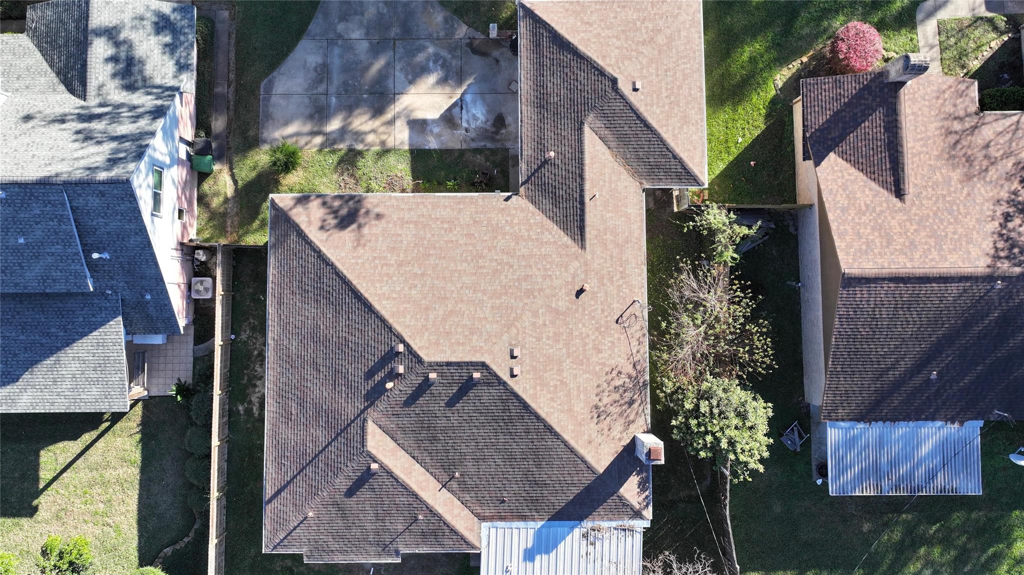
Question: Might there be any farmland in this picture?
No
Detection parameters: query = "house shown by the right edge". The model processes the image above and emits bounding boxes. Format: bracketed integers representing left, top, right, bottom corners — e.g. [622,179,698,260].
[794,58,1024,421]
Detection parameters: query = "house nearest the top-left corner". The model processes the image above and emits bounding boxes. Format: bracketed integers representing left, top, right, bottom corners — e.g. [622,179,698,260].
[0,0,200,414]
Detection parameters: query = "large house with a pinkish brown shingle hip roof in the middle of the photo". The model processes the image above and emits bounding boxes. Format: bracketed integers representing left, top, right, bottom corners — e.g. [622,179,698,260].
[262,0,708,565]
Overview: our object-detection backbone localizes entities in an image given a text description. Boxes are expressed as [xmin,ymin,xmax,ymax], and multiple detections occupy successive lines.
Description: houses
[794,58,1024,421]
[0,0,200,414]
[262,0,708,565]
